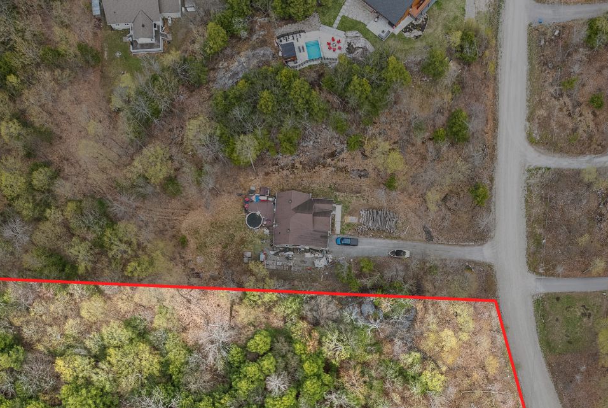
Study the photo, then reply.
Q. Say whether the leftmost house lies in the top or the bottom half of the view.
top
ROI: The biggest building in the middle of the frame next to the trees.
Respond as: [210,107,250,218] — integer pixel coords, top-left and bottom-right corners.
[248,190,336,249]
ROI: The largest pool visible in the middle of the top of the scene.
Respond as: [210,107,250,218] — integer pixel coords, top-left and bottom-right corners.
[304,39,322,61]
